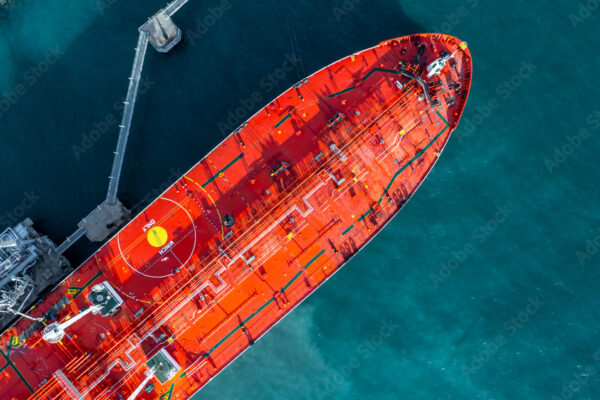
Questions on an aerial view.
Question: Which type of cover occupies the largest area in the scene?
water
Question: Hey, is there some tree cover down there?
No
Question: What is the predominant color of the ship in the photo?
red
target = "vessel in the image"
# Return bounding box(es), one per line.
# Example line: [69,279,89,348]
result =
[0,33,475,400]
